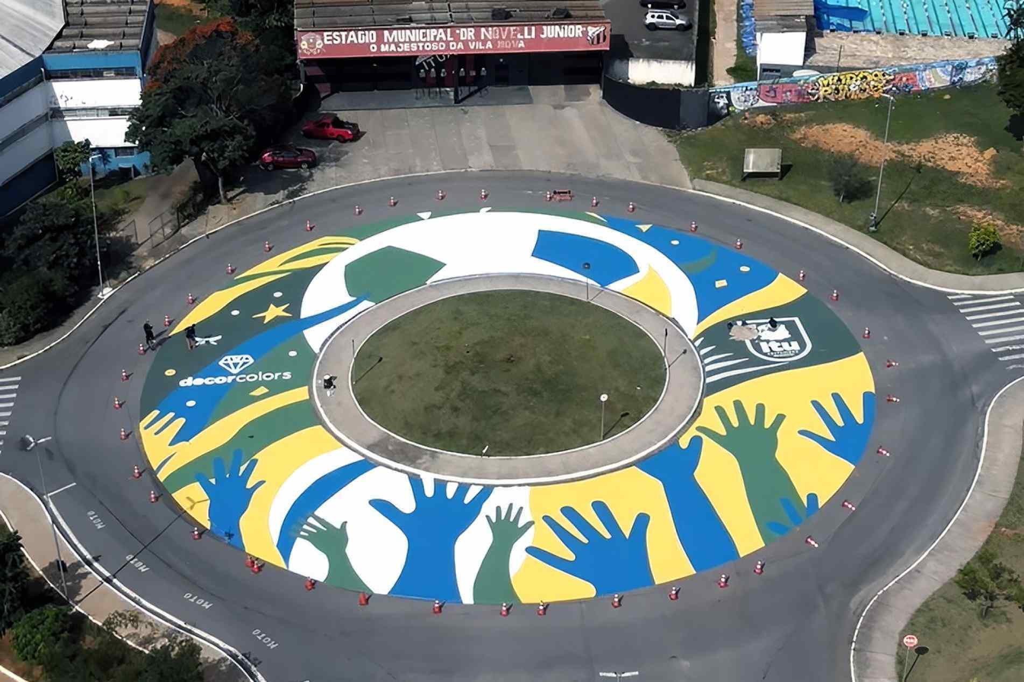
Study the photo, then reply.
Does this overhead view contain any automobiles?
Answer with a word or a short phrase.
Yes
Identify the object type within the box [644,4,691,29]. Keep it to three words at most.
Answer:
car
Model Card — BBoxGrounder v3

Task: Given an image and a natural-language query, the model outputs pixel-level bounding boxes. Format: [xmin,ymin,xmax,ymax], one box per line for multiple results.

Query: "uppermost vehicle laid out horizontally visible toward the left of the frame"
[302,114,358,140]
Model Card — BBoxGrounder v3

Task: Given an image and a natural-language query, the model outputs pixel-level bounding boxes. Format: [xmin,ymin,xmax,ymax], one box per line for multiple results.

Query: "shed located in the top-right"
[756,0,819,79]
